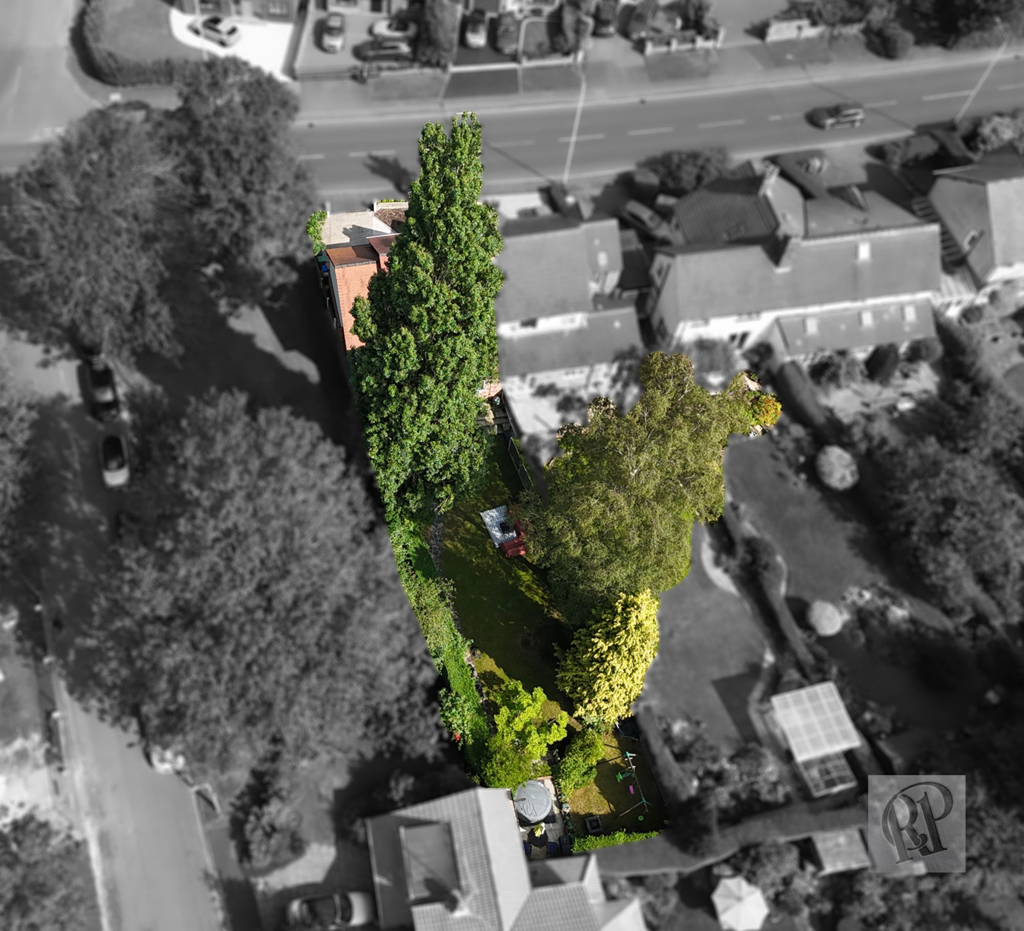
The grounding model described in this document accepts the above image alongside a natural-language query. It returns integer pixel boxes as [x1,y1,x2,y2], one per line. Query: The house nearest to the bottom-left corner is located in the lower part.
[365,788,647,931]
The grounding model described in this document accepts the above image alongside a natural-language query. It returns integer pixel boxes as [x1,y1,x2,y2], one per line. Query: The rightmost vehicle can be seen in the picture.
[811,98,867,130]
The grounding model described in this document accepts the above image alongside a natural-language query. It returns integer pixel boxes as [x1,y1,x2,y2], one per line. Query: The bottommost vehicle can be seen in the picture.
[288,890,376,931]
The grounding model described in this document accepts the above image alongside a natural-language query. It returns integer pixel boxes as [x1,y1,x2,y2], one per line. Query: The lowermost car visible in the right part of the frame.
[621,194,675,242]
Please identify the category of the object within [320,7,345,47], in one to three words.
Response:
car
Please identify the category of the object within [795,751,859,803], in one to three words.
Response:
greenhouse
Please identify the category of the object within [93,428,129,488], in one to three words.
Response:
car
